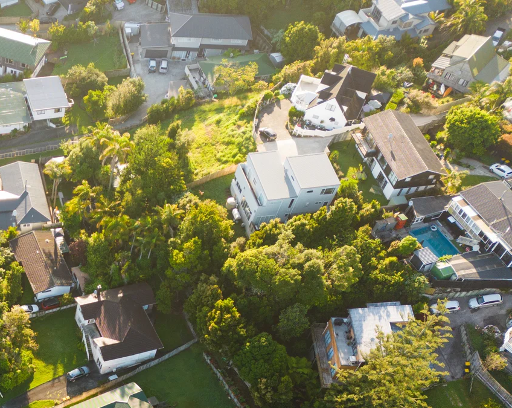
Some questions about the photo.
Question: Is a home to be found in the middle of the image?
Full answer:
Yes, looking in the middle of the image, one can make out a home.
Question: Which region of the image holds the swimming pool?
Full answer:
Look in the right portion of the view to spot the swimming pool.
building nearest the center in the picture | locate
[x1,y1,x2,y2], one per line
[232,151,340,223]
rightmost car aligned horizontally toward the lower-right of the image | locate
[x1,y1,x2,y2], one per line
[473,294,499,308]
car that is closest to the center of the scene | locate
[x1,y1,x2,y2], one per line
[258,129,278,142]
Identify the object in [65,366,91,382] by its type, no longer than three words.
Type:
car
